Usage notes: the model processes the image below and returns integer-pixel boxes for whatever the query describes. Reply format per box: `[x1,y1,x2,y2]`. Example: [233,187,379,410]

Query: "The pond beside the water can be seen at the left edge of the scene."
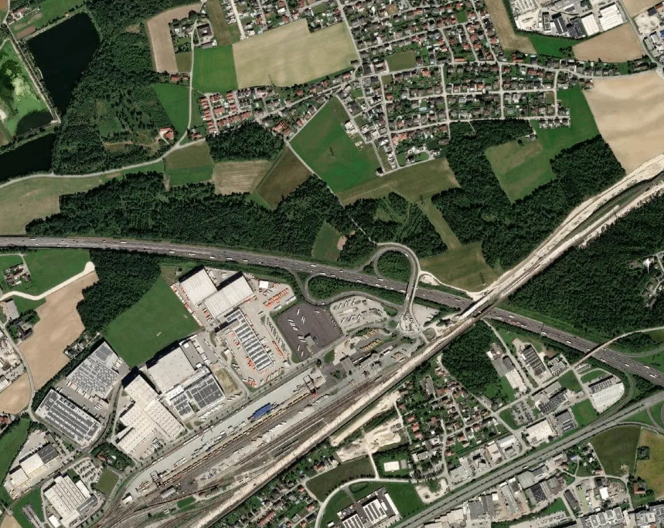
[0,41,56,136]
